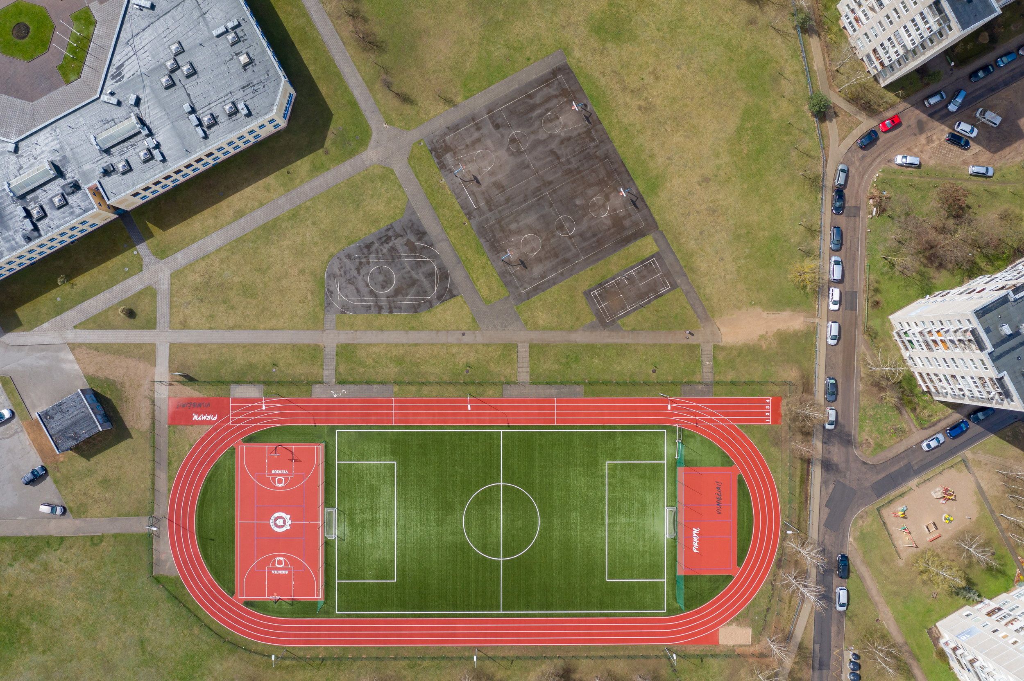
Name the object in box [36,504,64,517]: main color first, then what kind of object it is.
white vehicle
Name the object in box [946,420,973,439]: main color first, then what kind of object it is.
blue vehicle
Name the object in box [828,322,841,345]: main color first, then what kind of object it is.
white vehicle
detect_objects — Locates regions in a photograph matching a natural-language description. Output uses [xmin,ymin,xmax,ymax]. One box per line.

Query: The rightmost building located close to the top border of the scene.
[836,0,1024,87]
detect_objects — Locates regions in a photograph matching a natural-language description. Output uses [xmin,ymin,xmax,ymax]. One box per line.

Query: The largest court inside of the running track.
[232,441,324,605]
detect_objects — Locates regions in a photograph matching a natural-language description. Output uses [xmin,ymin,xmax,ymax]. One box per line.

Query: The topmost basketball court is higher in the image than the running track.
[423,60,613,222]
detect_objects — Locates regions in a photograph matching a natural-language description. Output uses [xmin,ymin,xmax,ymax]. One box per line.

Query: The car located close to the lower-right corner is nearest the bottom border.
[836,588,849,612]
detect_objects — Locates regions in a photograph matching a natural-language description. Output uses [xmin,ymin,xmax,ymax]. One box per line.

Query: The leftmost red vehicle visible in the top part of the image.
[879,113,905,131]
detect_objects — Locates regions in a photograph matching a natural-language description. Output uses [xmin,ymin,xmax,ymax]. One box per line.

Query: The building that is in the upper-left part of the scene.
[0,0,299,279]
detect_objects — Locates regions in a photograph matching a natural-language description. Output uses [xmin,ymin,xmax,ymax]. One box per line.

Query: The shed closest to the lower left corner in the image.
[35,388,114,455]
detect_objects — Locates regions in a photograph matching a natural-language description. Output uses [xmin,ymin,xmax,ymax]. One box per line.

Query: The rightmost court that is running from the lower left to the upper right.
[577,251,680,332]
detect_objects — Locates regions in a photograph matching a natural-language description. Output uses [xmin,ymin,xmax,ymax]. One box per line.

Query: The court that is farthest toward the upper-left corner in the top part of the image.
[324,200,462,314]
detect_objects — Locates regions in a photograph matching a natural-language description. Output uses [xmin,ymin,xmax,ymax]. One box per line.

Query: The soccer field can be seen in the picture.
[195,425,753,619]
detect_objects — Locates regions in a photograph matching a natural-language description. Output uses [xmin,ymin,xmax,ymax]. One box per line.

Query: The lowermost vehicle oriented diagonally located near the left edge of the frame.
[19,466,46,486]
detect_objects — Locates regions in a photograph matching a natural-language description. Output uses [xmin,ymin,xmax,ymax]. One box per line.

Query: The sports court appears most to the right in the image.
[677,465,741,578]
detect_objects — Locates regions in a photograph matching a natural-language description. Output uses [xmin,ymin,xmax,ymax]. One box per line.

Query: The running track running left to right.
[167,397,782,647]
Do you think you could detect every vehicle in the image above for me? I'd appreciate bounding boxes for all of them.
[857,129,880,148]
[971,407,996,424]
[895,152,923,166]
[36,504,64,517]
[838,555,851,579]
[826,377,838,403]
[923,88,950,107]
[829,286,842,312]
[879,113,905,131]
[833,188,845,214]
[831,225,844,251]
[836,161,850,187]
[970,62,998,81]
[948,86,971,113]
[921,433,948,453]
[977,106,1005,126]
[825,406,838,432]
[0,407,16,423]
[969,164,996,176]
[828,322,841,345]
[946,420,973,439]
[836,588,849,612]
[831,257,843,280]
[946,130,973,149]
[956,119,980,137]
[19,466,46,486]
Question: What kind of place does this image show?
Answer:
sports ground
